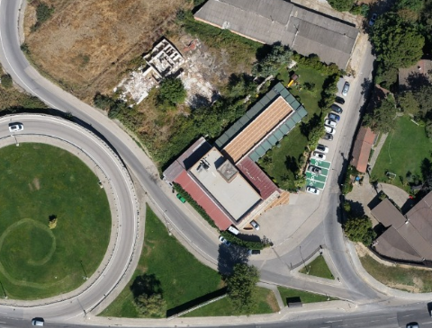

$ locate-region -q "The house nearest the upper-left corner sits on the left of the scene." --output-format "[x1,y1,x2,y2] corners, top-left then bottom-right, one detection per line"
[143,38,185,83]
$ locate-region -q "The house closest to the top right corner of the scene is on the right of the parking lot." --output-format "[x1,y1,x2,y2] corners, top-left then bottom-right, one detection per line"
[398,60,432,87]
